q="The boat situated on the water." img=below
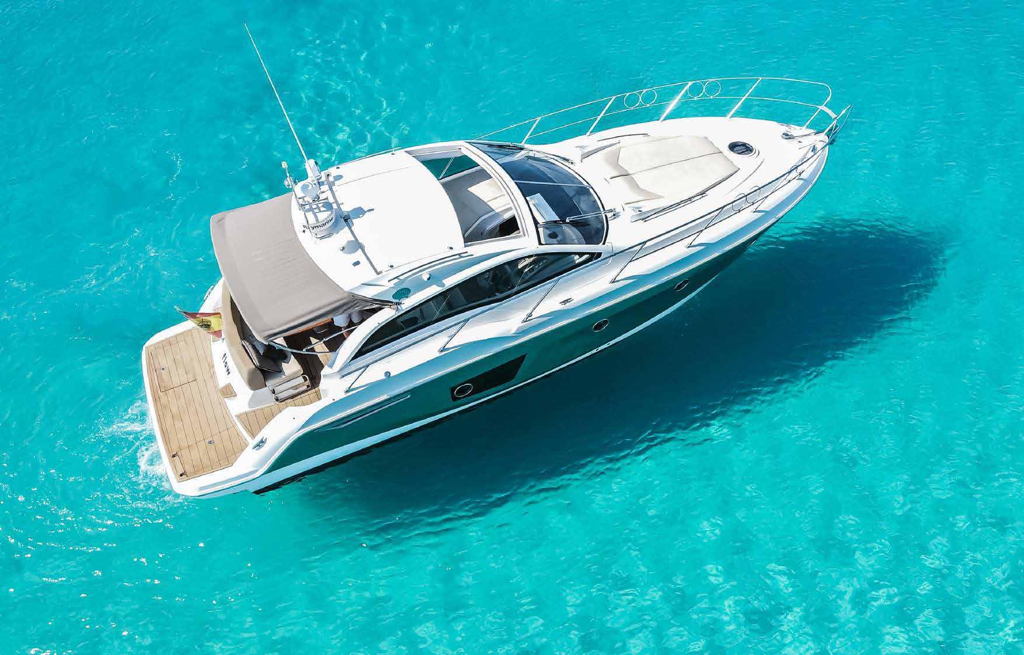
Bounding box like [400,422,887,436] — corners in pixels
[142,24,856,502]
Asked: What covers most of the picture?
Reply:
water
